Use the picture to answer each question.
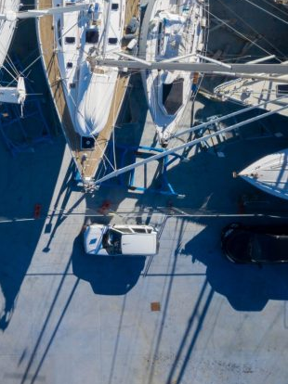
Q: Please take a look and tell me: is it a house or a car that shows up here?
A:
car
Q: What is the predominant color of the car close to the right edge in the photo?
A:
black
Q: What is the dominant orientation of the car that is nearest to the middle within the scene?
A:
horizontally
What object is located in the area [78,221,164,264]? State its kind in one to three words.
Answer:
car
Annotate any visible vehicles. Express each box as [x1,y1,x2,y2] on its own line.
[78,221,164,264]
[213,220,288,267]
